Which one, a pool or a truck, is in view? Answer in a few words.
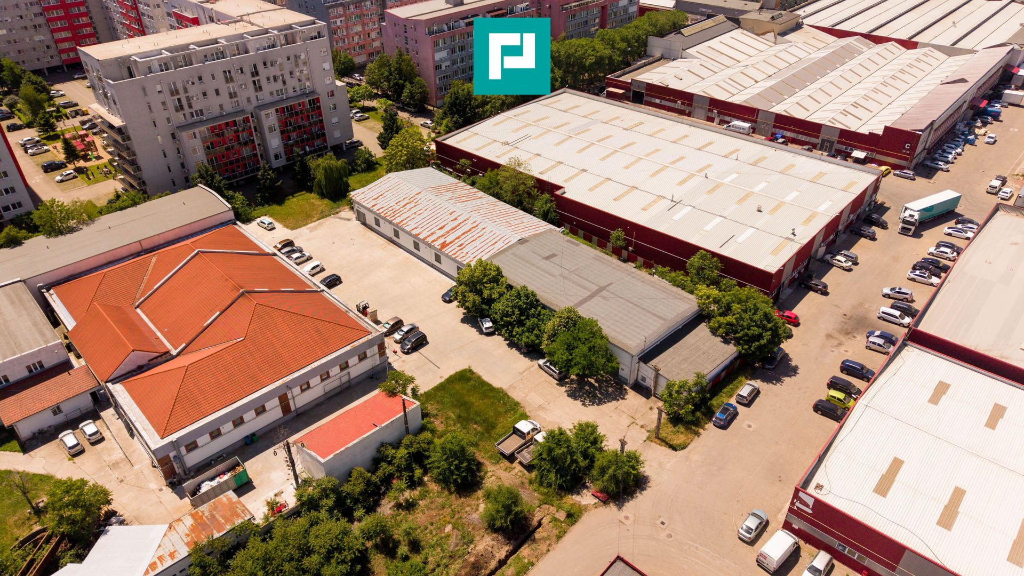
truck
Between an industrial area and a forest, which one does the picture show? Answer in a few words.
industrial area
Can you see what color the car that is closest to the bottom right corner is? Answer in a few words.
white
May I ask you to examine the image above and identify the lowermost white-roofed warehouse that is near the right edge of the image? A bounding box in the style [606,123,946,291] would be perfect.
[783,339,1024,576]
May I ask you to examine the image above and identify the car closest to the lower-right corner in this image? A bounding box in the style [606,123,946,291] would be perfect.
[803,547,835,576]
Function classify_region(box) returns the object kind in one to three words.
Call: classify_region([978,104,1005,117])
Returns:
vehicle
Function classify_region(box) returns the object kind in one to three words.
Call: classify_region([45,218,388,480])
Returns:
building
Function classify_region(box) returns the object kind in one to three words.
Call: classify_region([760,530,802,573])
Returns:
van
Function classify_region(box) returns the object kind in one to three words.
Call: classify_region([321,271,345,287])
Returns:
car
